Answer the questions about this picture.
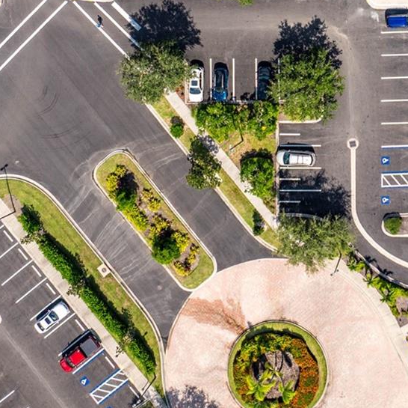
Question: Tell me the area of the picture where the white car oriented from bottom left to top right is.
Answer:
bottom left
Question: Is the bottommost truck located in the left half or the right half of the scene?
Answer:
left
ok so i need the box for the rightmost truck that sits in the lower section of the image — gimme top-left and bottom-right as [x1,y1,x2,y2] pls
[60,332,102,371]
